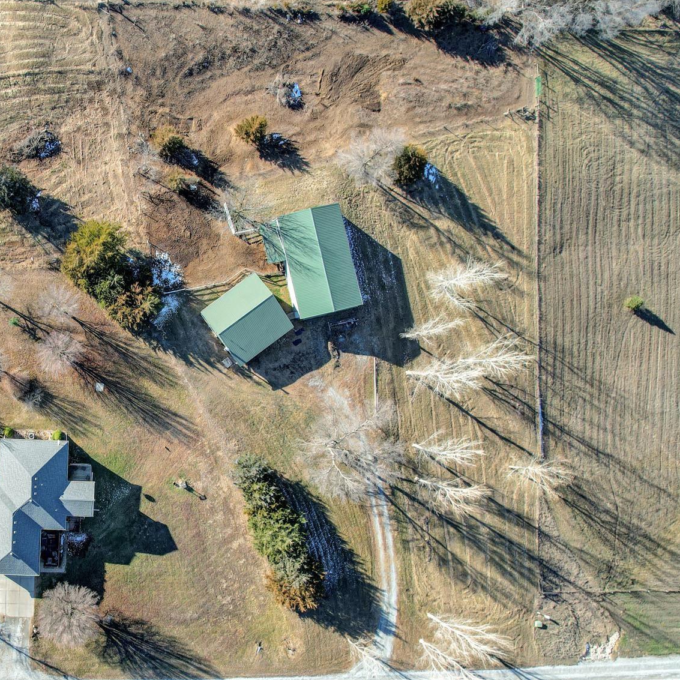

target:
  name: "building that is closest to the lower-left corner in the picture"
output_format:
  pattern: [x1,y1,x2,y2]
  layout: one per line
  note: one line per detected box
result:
[0,437,94,577]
